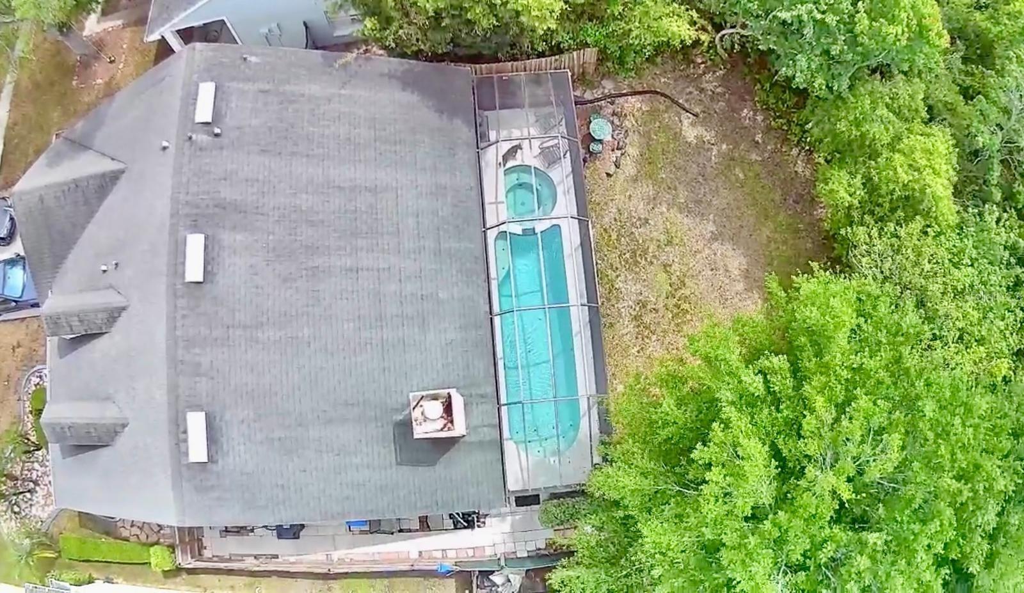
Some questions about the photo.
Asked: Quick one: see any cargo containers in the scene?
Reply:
No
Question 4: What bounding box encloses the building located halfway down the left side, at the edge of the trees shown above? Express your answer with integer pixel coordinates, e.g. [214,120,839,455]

[11,43,512,527]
